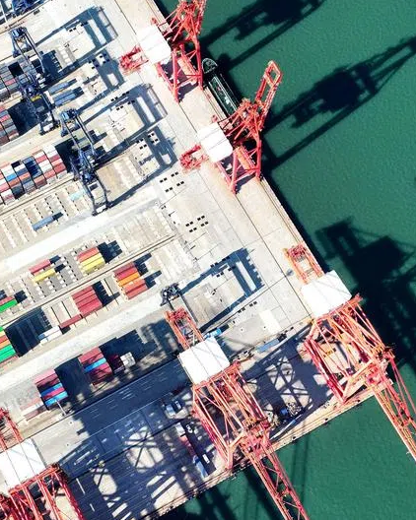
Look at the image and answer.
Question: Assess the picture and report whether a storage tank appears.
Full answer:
No, no storage tank is visible in the view.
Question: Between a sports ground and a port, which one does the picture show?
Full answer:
The picture captures a port.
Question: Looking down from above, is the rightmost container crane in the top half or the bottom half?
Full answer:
The rightmost container crane sits in the bottom half of the picture.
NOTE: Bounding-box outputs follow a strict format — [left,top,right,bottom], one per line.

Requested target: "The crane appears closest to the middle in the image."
[156,284,198,350]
